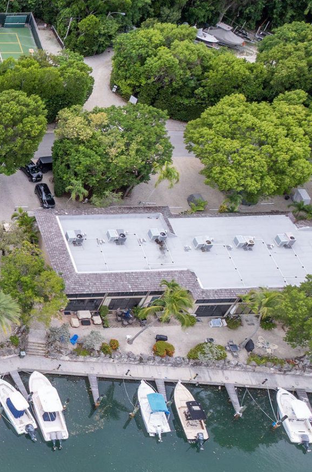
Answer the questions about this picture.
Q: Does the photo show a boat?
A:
Yes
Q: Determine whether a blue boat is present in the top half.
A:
No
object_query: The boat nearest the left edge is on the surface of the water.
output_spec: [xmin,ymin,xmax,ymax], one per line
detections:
[0,378,36,443]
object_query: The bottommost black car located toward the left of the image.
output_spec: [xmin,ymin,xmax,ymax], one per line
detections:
[33,180,56,208]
